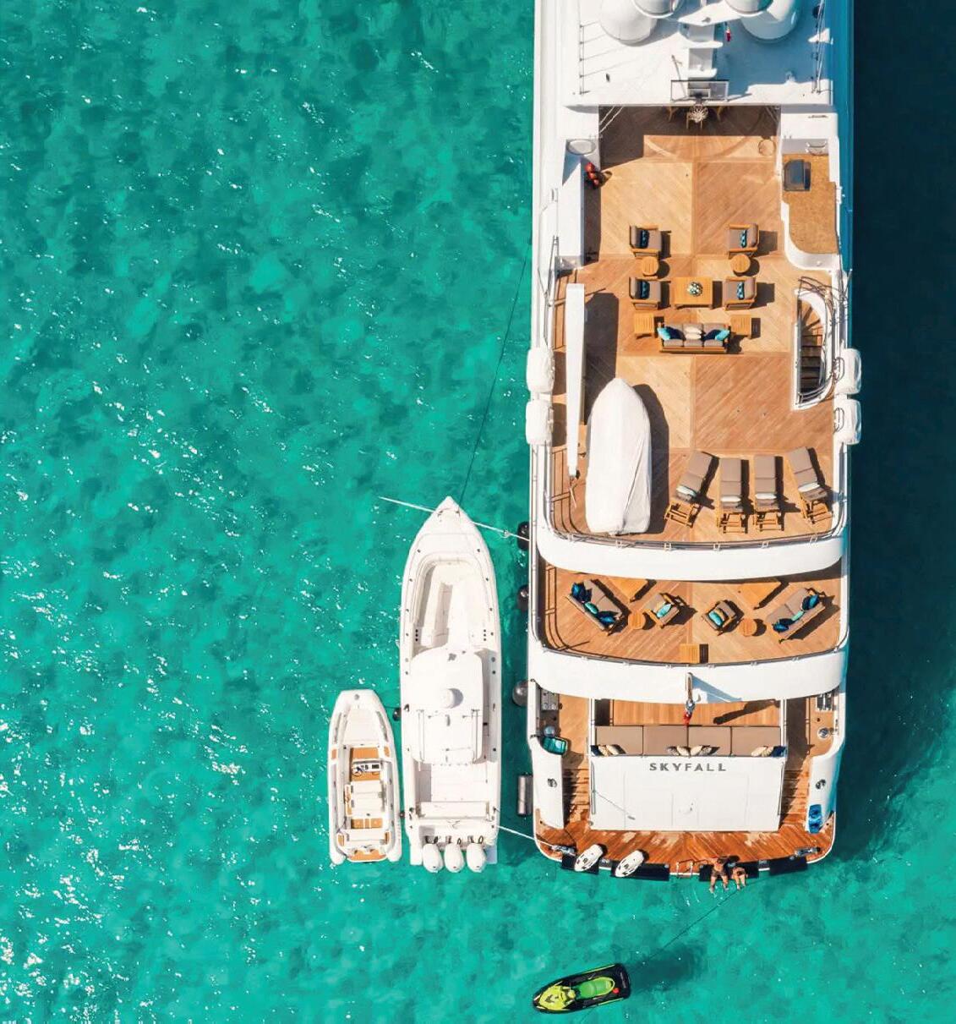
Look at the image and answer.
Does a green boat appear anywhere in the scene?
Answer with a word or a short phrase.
Yes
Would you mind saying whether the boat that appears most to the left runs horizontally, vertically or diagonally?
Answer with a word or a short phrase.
vertically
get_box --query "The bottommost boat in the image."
[535,960,632,1010]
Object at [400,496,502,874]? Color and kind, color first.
white boat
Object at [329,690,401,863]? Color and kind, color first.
white boat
